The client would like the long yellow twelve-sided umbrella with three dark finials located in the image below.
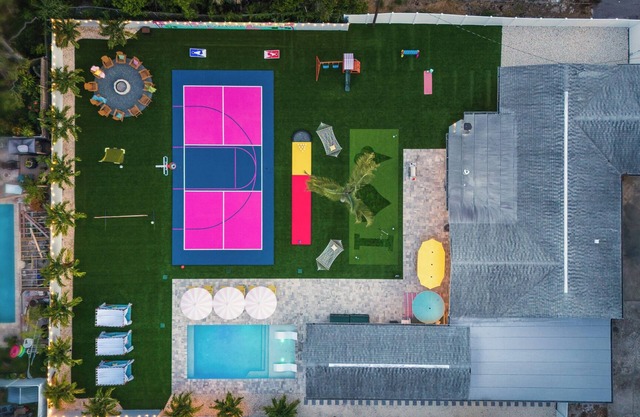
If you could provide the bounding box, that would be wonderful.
[417,238,445,289]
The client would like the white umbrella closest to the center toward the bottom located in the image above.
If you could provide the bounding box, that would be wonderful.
[245,286,277,319]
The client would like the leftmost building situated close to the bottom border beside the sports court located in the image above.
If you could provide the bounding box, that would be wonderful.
[306,321,472,403]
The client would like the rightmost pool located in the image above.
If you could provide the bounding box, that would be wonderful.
[185,323,298,382]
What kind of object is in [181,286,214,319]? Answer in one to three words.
umbrella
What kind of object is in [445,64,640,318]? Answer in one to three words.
house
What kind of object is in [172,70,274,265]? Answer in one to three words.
sports court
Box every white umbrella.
[213,286,245,319]
[181,286,214,319]
[245,286,277,319]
